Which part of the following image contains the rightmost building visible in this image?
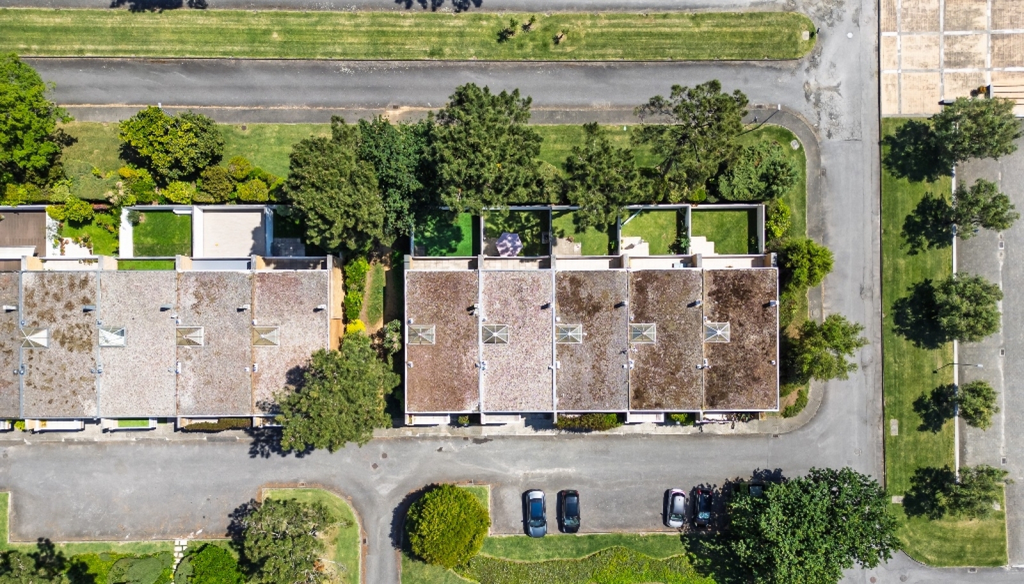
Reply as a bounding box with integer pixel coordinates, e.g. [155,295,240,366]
[694,256,780,422]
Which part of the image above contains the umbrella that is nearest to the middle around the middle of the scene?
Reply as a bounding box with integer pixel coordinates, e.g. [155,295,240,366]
[496,233,523,256]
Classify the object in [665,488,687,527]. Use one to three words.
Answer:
car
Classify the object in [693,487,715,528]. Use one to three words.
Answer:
car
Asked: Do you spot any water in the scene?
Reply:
No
